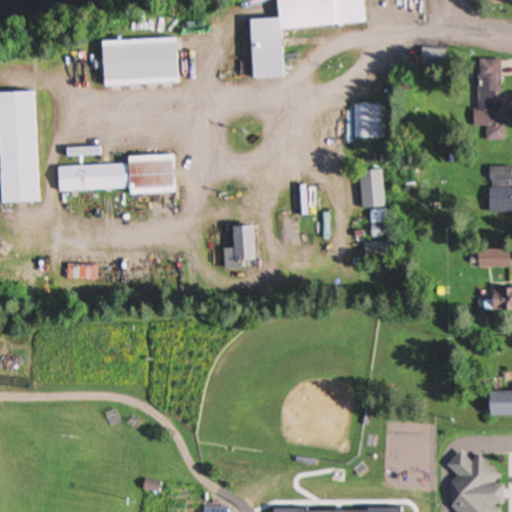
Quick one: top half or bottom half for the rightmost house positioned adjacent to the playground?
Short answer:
bottom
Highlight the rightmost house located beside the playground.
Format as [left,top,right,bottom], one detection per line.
[444,450,502,512]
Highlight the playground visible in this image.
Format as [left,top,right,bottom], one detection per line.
[386,421,436,492]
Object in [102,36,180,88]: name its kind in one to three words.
shed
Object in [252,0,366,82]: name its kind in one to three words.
building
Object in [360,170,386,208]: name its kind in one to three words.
shed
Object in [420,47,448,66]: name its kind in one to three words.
house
